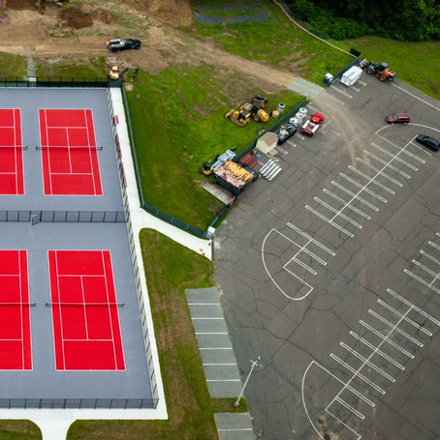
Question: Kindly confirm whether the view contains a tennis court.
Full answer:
Yes, a tennis court can be made out from above.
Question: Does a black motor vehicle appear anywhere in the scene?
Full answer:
Yes, looking at the shot, I can spot a black motor vehicle.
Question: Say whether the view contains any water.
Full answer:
No, there's no water in this view.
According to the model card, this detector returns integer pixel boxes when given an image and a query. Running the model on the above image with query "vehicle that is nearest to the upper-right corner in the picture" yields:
[361,61,391,82]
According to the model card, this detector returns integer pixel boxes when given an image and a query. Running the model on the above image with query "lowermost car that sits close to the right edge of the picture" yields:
[416,135,440,152]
